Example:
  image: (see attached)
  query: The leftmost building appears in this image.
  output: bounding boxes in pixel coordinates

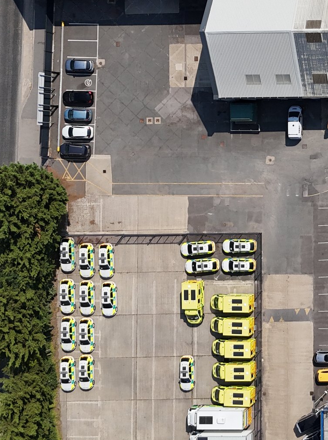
[204,0,304,101]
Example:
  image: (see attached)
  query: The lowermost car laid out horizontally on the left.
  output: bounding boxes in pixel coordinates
[59,143,91,159]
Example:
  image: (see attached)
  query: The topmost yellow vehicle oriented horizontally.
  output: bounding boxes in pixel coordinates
[214,295,256,316]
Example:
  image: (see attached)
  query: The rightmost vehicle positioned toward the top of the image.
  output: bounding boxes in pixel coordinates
[287,107,304,139]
